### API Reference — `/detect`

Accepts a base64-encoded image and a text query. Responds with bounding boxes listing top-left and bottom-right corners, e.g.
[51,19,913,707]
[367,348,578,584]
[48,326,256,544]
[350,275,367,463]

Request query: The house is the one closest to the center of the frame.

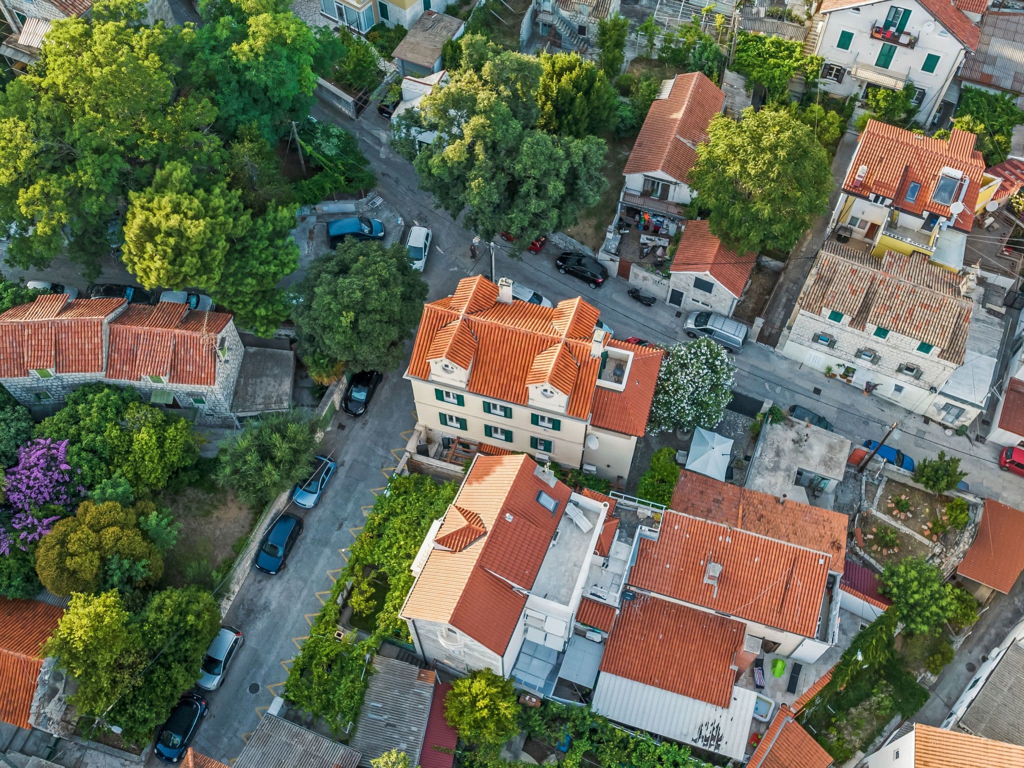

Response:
[407,273,666,483]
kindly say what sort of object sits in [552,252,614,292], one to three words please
car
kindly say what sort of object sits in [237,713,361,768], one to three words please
shed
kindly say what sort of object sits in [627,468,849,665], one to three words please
house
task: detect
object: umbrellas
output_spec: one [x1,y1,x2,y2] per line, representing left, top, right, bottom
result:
[655,238,666,254]
[685,427,746,480]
